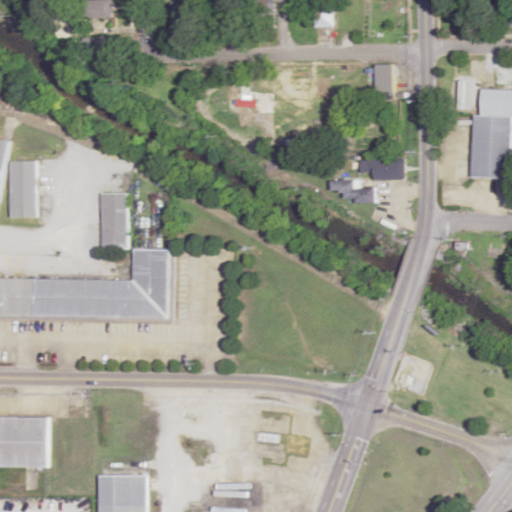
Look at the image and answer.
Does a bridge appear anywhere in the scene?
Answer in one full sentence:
Yes, looking at the shot, I can spot a bridge.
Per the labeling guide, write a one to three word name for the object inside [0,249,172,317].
building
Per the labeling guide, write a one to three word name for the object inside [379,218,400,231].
vehicle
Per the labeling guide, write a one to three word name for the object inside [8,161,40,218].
shed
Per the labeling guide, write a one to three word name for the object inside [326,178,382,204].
house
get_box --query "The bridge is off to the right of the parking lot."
[386,234,443,306]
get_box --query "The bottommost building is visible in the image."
[98,472,150,512]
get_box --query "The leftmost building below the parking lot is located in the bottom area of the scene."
[0,416,52,470]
